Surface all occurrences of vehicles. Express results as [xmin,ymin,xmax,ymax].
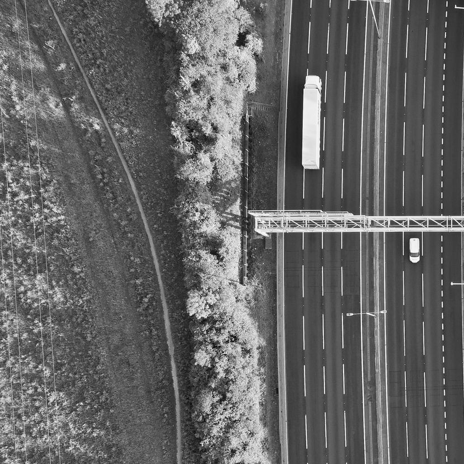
[304,78,323,168]
[408,238,421,263]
